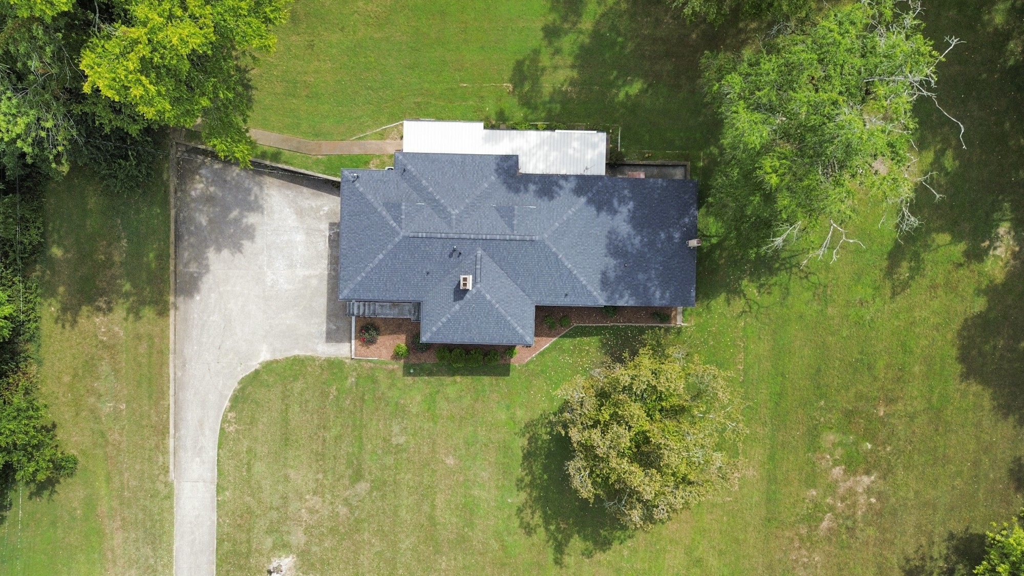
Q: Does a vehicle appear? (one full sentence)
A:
No, there is no vehicle in the image.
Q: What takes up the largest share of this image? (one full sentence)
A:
The largest share of the image is taken up by grass.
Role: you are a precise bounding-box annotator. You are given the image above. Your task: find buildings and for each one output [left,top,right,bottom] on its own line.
[337,120,704,346]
